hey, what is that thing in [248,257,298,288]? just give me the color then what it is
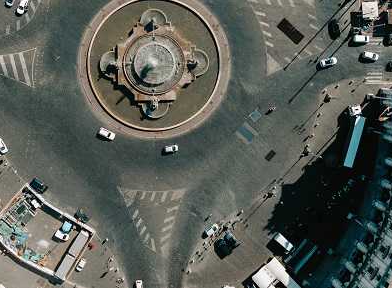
white tent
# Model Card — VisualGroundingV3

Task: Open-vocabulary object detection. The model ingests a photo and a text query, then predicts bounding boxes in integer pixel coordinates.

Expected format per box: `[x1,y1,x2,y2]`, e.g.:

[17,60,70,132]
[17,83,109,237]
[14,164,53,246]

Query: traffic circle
[18,0,291,201]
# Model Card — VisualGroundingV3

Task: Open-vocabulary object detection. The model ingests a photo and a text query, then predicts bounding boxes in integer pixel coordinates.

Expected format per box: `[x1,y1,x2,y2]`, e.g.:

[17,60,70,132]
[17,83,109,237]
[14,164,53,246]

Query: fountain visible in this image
[88,0,222,130]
